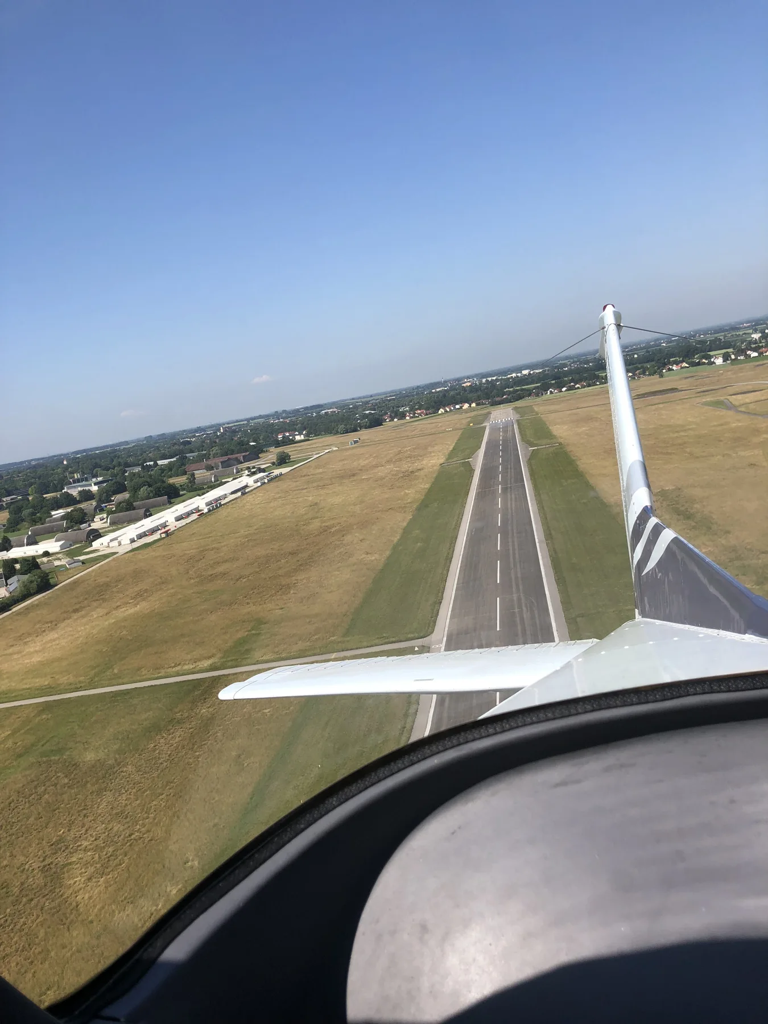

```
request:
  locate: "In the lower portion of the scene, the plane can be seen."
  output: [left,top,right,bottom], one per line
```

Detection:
[0,310,768,1024]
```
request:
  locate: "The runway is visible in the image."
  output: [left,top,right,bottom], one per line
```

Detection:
[407,407,570,742]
